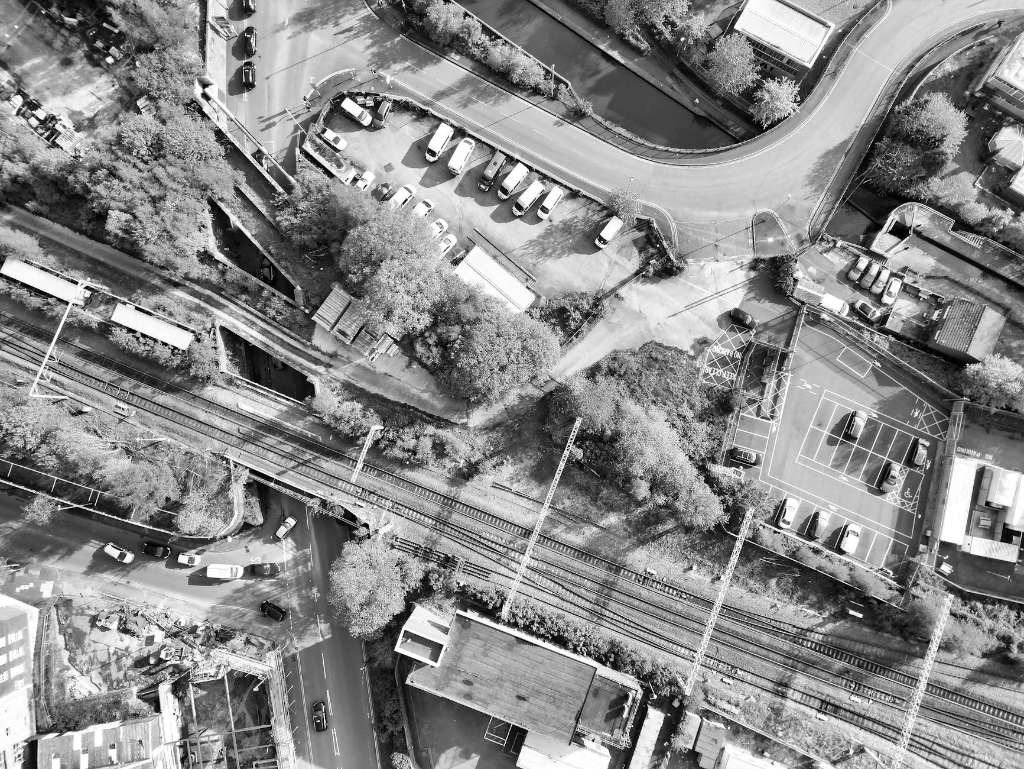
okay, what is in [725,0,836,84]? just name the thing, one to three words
building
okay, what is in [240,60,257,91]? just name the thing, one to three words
car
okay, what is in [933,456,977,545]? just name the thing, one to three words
shed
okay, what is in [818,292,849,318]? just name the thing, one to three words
vehicle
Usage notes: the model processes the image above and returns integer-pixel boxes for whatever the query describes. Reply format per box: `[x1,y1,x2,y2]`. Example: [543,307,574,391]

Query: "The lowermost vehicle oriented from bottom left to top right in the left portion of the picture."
[273,514,298,541]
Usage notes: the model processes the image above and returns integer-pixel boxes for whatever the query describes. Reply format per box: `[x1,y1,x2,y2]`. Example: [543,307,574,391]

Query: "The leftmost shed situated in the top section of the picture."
[0,257,94,304]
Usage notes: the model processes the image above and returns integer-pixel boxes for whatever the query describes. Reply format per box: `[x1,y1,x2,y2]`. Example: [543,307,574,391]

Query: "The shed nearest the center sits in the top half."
[455,246,535,306]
